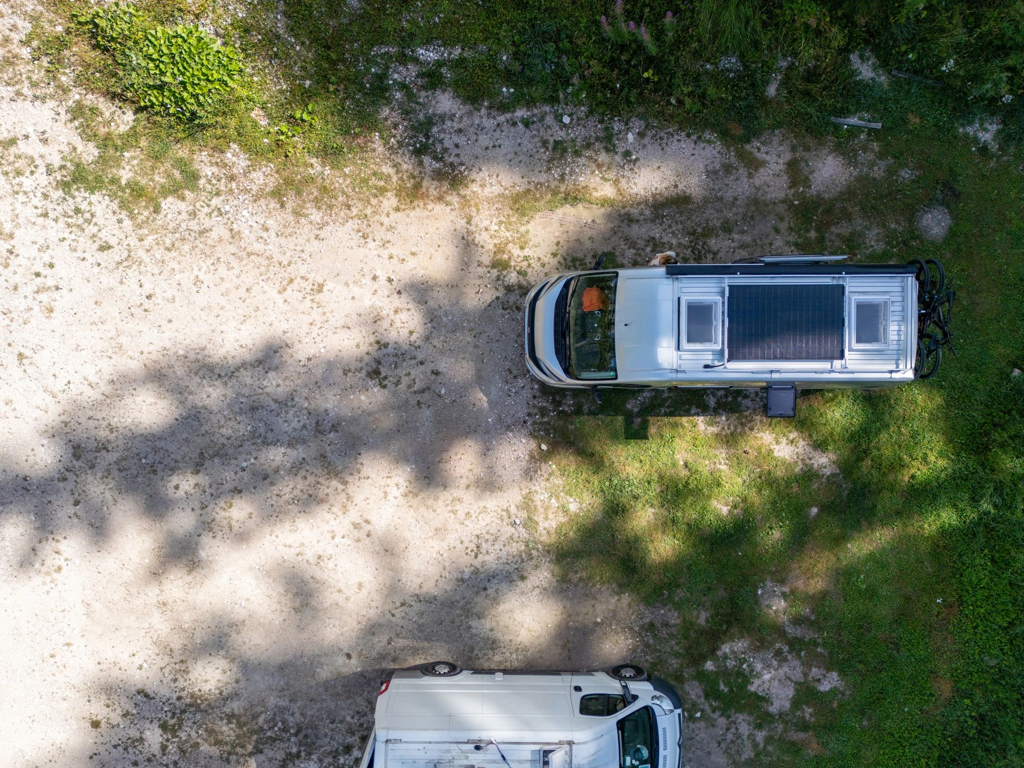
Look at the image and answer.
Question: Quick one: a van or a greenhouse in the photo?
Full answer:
Looking from above, you can make out a van.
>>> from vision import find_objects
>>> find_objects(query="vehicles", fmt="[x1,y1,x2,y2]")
[524,250,926,415]
[355,663,686,768]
